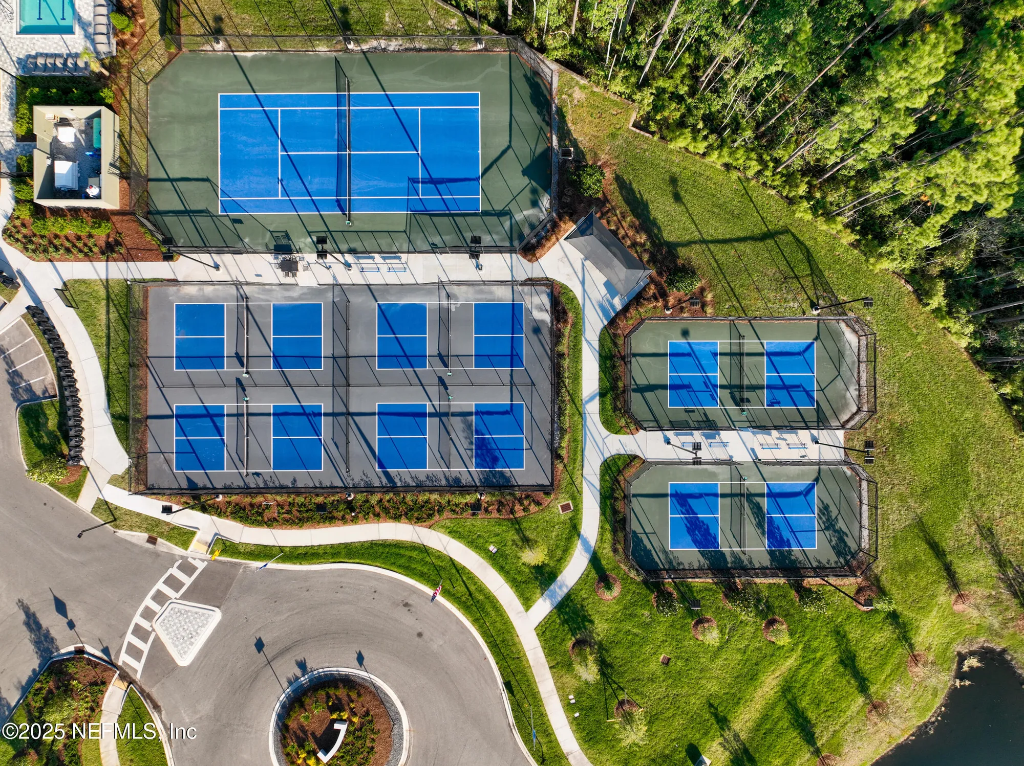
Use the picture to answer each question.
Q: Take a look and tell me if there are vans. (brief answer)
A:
No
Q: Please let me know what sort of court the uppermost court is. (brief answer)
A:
tennis court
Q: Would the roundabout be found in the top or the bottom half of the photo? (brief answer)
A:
bottom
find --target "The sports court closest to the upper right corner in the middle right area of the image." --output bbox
[631,322,859,428]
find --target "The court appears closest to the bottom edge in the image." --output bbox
[631,464,861,570]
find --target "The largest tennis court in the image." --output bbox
[148,51,550,253]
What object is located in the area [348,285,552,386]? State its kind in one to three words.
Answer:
sports court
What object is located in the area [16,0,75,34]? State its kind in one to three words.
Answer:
swimming pool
